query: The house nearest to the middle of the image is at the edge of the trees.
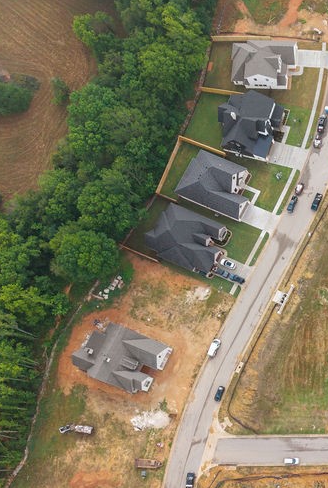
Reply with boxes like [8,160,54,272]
[140,202,229,276]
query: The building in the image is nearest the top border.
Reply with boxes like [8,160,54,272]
[227,40,300,89]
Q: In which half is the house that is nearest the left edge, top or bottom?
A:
bottom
